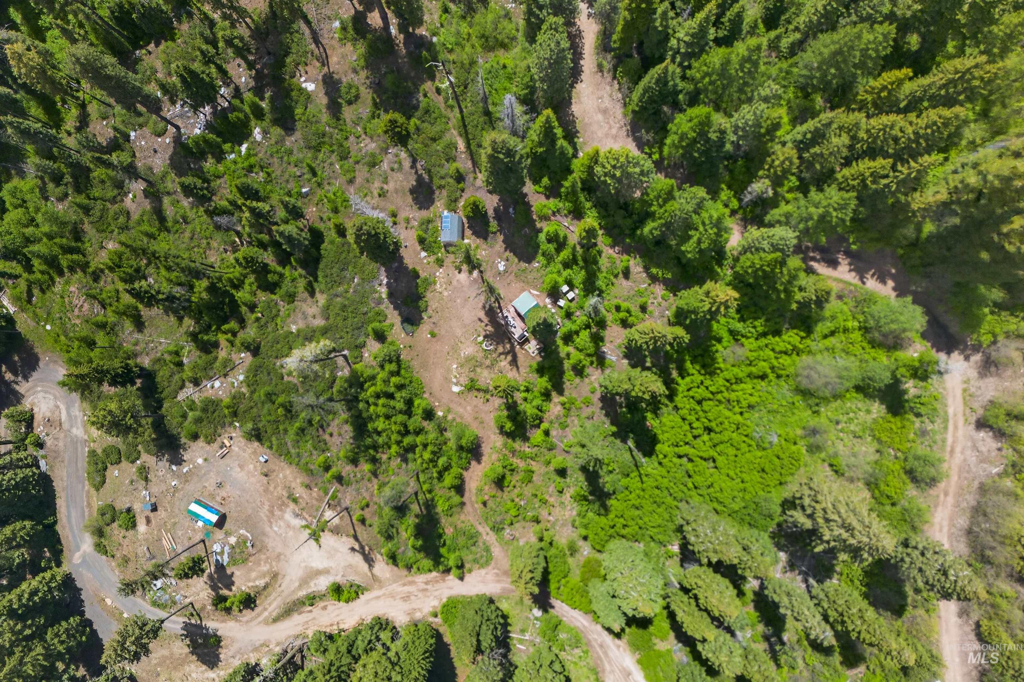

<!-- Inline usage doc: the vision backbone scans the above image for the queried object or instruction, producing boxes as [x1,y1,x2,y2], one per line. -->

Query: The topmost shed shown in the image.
[440,213,464,244]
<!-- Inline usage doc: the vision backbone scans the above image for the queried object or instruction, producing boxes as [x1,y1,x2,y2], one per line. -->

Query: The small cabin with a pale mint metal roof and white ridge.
[510,286,541,318]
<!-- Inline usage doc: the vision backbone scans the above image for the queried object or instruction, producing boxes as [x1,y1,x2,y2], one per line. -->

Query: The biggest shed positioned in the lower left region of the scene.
[189,497,228,527]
